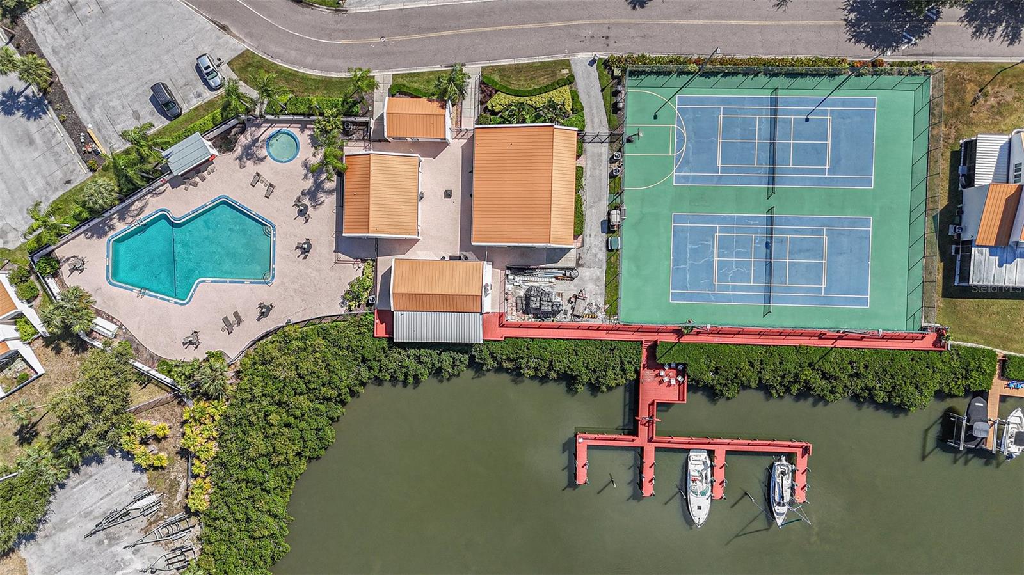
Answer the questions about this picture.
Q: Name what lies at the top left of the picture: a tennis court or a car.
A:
car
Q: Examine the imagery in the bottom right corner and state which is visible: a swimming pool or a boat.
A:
boat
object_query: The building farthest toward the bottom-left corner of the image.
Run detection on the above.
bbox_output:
[0,339,52,403]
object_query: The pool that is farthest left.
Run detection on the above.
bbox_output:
[106,197,276,305]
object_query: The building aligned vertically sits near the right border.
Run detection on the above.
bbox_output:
[952,129,1024,287]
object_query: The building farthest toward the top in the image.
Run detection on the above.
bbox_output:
[383,97,455,143]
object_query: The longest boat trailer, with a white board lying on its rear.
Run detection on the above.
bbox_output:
[79,491,160,540]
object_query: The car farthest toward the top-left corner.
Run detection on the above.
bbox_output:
[146,78,183,121]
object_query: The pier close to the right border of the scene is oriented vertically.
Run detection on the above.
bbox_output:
[982,358,1024,450]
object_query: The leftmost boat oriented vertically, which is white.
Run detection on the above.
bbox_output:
[687,448,713,528]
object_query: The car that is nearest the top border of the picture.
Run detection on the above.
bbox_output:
[193,50,225,91]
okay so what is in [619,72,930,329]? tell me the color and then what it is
green basketball court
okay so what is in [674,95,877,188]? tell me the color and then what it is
blue tennis court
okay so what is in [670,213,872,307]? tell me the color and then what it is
blue tennis court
